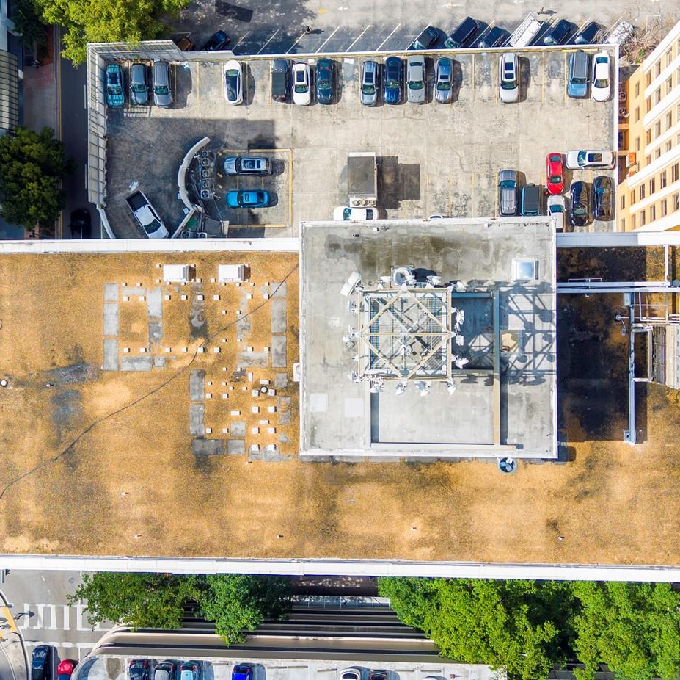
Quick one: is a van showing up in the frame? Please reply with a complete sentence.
Yes, the photo shows a van.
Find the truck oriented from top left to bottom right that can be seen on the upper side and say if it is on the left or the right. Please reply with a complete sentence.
The truck oriented from top left to bottom right that can be seen on the upper side is on the left side of the image.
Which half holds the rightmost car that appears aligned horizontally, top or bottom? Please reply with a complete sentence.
The top half of the photo is where the rightmost car that appears aligned horizontally is.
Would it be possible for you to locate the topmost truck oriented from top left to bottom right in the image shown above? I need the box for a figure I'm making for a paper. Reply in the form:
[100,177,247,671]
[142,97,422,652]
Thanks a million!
[126,187,170,239]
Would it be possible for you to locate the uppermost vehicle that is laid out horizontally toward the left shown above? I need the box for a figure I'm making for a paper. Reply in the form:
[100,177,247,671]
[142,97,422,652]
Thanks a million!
[226,155,272,178]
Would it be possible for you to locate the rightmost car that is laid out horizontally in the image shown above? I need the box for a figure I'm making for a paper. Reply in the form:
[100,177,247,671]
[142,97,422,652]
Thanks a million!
[565,148,613,171]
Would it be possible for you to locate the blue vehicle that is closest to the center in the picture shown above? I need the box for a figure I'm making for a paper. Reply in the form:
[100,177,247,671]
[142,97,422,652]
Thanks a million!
[226,188,271,210]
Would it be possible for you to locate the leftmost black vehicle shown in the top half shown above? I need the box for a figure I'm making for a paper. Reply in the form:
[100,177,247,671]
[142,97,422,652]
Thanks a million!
[71,205,91,239]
